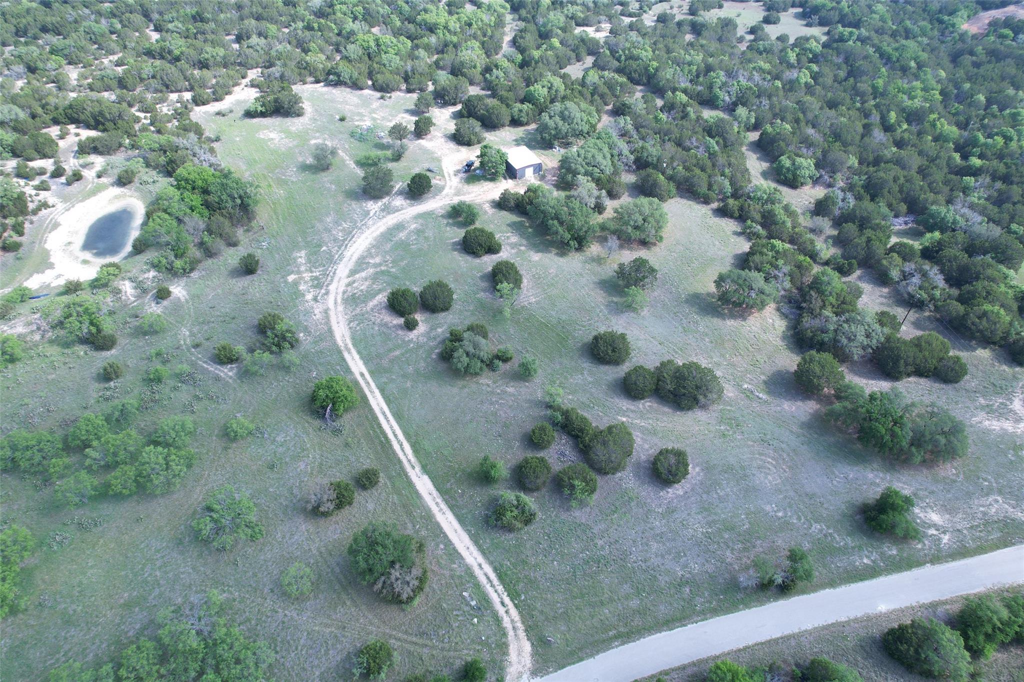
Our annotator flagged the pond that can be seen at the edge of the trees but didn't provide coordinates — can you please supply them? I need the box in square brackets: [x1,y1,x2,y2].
[81,208,135,258]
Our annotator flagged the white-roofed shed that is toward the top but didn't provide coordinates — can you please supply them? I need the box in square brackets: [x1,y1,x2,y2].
[501,146,542,178]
